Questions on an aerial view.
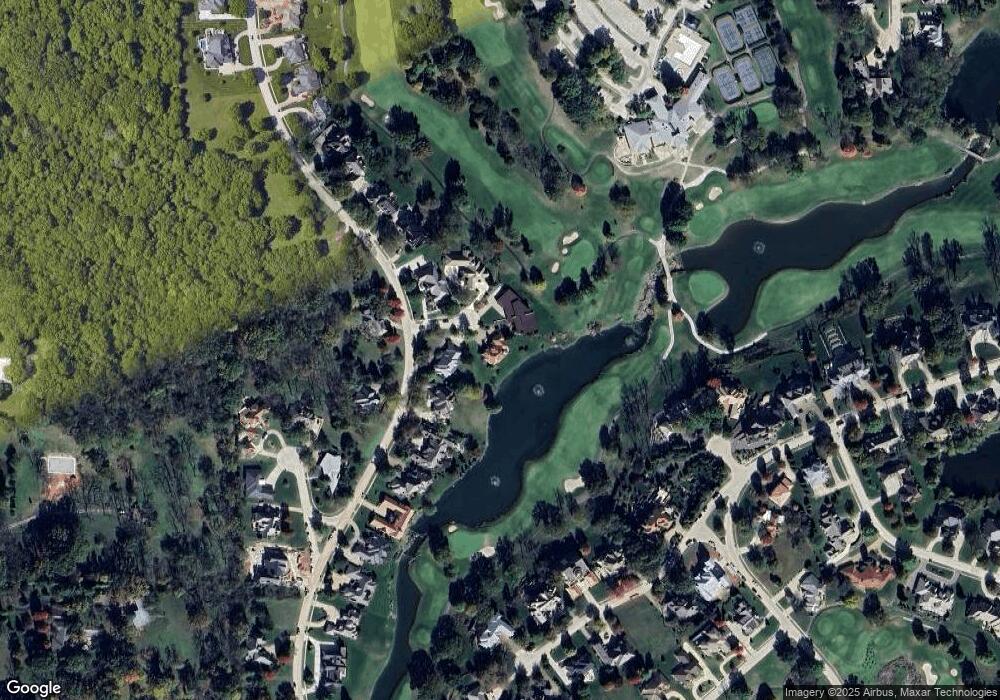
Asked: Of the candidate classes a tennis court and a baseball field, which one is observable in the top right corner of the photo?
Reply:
tennis court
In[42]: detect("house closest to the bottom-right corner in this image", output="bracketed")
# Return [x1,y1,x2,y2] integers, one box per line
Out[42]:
[964,599,1000,637]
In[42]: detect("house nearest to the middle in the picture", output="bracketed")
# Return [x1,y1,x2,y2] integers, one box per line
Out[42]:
[480,335,511,367]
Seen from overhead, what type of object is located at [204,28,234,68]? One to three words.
house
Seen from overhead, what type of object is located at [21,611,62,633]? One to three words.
house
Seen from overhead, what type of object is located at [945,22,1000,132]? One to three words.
pond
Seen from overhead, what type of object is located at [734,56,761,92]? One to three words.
tennis court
